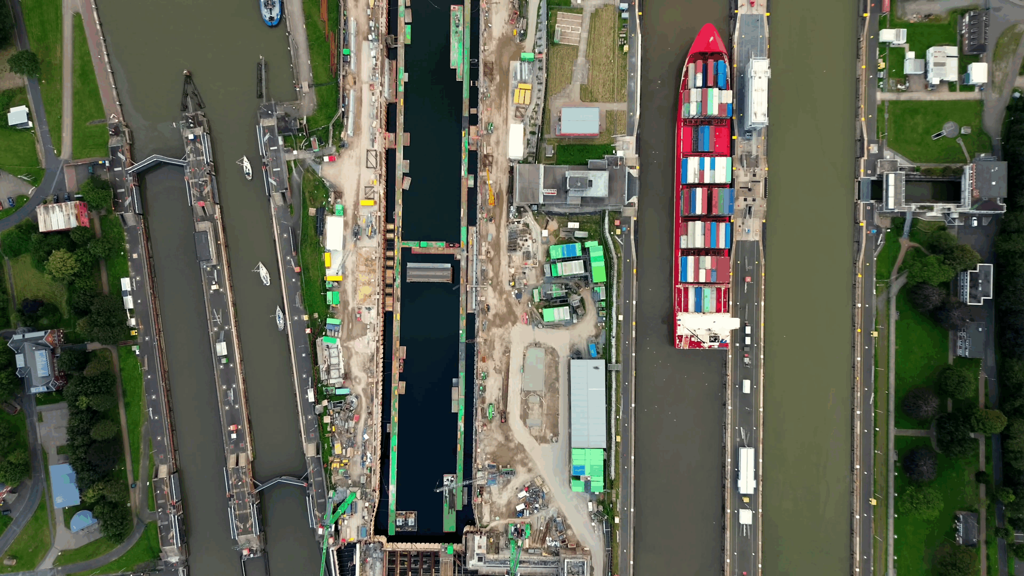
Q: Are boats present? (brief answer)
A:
Yes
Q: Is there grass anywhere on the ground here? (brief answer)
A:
Yes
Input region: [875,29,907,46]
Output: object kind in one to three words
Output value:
shed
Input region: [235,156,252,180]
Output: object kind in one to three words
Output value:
boat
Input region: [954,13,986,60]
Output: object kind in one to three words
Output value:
house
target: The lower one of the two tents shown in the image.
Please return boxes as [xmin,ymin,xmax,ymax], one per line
[327,216,346,251]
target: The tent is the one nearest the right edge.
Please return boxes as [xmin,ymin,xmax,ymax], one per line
[509,124,523,161]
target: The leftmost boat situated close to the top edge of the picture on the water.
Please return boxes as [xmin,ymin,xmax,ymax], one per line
[260,0,285,29]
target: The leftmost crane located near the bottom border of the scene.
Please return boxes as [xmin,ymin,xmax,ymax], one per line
[318,492,357,576]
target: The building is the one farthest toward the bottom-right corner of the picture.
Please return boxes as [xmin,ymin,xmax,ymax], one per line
[947,506,975,541]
